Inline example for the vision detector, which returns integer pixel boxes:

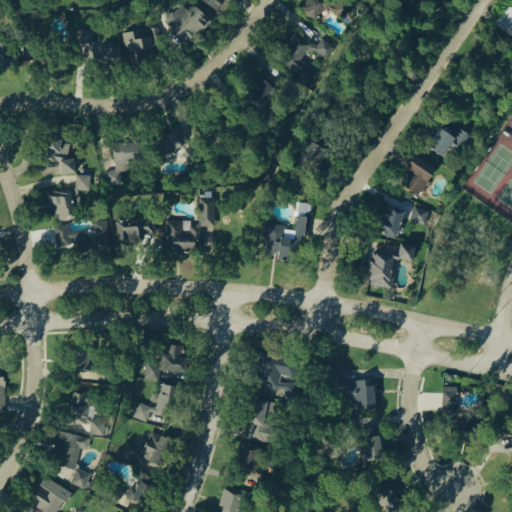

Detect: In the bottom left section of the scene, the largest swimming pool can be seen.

[108,460,132,478]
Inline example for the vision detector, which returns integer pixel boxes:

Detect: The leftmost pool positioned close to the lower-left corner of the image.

[82,450,98,465]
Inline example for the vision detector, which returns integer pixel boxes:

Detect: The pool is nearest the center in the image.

[273,206,294,222]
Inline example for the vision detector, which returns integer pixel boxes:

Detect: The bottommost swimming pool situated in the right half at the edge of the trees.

[342,449,358,467]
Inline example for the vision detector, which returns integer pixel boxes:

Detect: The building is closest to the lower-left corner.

[32,474,73,512]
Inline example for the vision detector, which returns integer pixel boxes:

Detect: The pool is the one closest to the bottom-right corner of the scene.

[460,394,478,408]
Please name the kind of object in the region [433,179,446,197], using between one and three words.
swimming pool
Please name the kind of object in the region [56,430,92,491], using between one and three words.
house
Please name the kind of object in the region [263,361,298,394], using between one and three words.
house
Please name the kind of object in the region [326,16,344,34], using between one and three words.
swimming pool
